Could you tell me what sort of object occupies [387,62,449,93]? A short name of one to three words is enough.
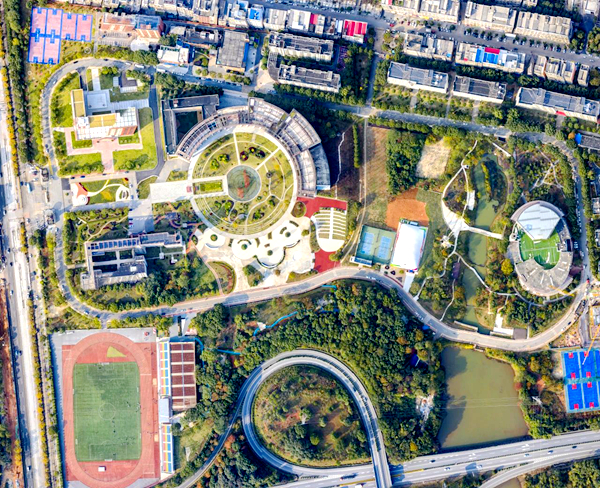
building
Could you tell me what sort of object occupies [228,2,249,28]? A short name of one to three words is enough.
house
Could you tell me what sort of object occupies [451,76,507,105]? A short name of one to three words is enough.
building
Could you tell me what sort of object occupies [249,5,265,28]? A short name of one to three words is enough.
house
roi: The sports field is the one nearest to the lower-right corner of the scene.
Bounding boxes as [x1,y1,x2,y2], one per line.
[518,224,557,269]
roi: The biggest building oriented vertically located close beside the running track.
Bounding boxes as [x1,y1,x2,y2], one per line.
[169,339,198,409]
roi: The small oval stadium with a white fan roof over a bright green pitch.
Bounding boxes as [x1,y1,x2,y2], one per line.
[507,200,574,296]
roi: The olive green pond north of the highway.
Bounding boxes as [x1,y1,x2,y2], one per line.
[440,346,529,455]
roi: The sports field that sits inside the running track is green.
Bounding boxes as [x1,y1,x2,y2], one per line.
[74,361,141,462]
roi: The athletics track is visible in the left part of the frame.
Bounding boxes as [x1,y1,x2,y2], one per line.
[62,333,159,488]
